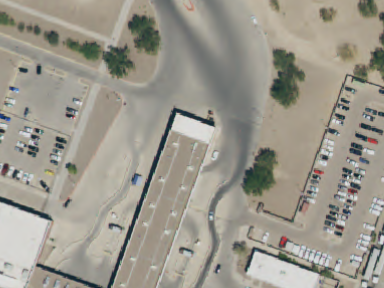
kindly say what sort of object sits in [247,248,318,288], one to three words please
building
